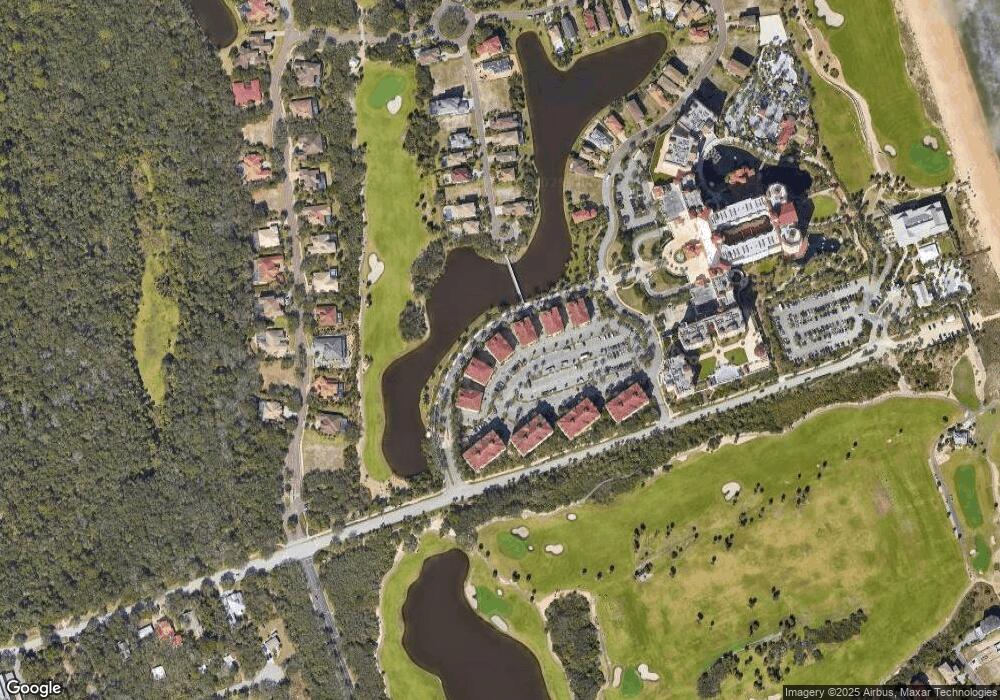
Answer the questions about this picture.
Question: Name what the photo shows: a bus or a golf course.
golf course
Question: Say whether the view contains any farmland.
No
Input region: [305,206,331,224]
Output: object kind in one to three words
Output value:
house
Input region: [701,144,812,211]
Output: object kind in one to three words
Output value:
pond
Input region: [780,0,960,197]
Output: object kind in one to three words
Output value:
golf course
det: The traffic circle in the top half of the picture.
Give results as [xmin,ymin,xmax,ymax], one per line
[432,2,476,44]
